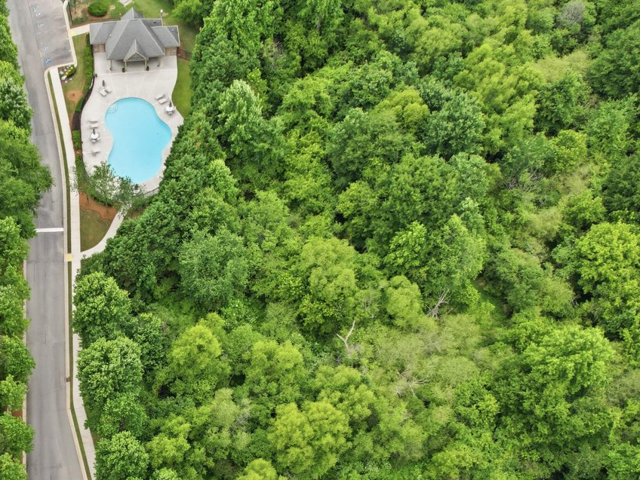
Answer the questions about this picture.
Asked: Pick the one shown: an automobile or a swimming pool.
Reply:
swimming pool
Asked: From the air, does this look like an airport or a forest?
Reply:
forest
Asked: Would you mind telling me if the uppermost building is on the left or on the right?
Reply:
left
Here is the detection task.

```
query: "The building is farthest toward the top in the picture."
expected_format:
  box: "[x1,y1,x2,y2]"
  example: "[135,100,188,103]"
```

[81,0,180,74]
